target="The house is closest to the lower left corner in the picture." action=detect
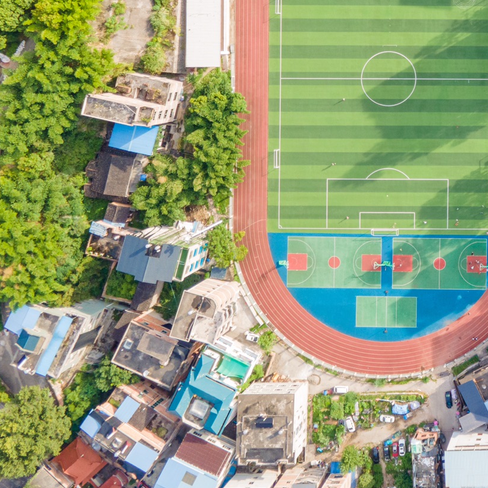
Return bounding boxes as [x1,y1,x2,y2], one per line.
[27,461,77,488]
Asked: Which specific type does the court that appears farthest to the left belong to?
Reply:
basketball court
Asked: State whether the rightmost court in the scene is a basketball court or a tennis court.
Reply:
basketball court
